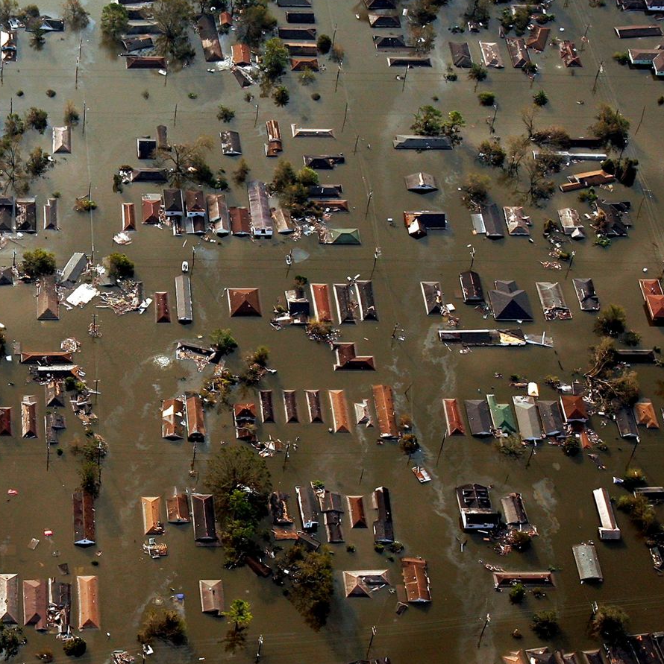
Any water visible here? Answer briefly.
Yes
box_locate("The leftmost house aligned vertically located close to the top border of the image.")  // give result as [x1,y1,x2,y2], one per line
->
[1,29,17,62]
